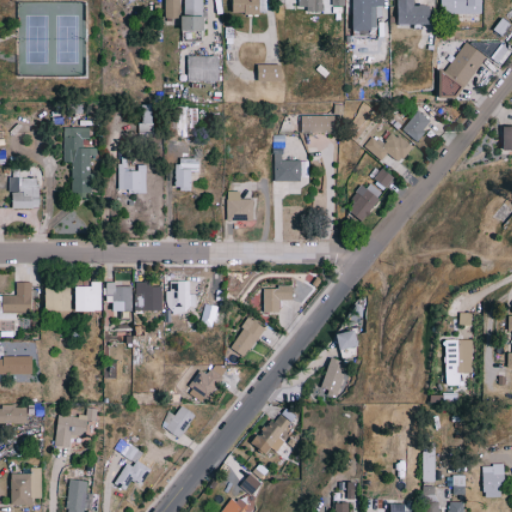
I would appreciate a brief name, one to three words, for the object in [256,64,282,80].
house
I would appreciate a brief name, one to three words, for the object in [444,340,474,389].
house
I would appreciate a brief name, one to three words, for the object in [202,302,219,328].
building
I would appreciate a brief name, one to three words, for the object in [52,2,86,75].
tennis court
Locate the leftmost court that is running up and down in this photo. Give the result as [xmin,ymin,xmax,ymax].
[18,2,52,75]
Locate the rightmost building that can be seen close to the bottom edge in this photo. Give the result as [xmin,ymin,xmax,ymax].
[482,464,506,498]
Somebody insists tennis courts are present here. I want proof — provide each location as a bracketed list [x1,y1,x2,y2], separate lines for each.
[52,2,86,75]
[18,2,52,75]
